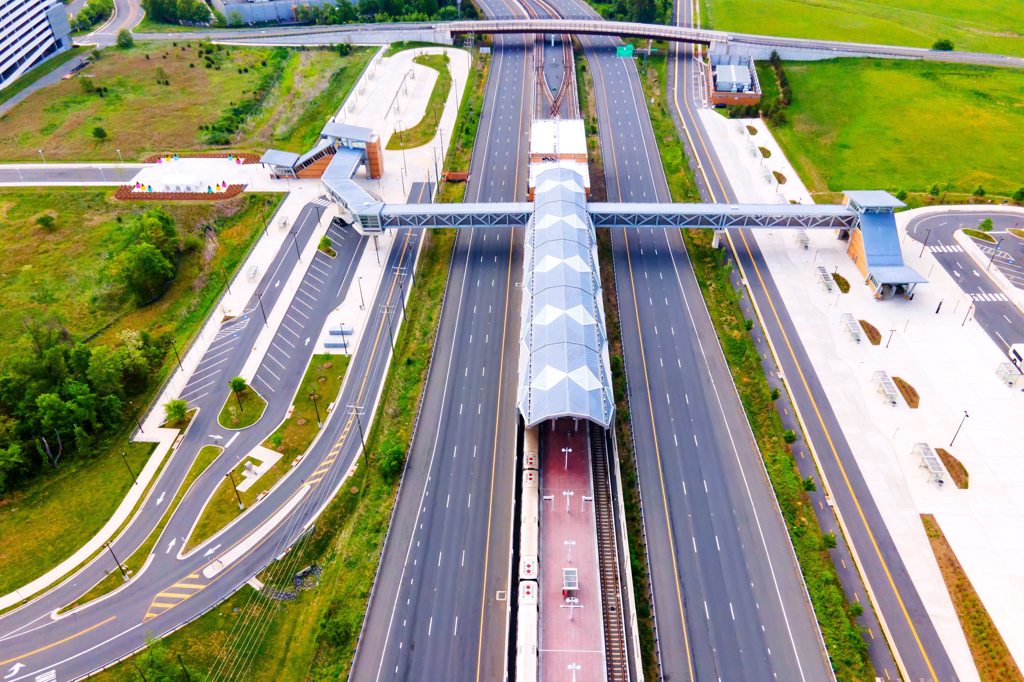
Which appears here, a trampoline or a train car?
train car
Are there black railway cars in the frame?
No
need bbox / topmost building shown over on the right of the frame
[709,54,763,105]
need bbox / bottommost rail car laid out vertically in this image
[515,582,538,682]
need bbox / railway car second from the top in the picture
[519,471,539,589]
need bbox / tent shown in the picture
[160,176,206,191]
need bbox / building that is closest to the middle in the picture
[529,116,590,180]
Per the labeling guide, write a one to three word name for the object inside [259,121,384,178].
building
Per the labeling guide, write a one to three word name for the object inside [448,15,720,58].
overpass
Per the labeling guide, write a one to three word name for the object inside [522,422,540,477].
rail car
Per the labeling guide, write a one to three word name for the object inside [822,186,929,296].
building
